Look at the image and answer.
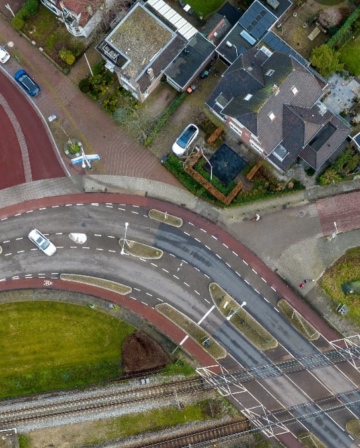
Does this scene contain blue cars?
Yes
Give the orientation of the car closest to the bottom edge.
on a diagonal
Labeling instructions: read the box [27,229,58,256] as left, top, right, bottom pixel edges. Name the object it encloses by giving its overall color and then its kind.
white car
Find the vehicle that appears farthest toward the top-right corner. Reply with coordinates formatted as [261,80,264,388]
[173,124,199,155]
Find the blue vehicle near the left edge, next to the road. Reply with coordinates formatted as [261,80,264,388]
[13,69,41,98]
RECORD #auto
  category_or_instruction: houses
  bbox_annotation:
[205,41,352,177]
[95,0,188,103]
[41,0,127,46]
